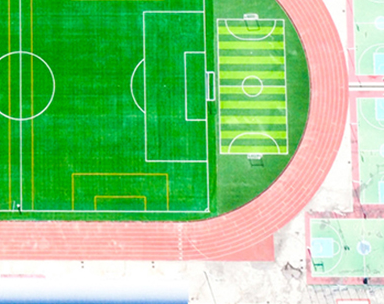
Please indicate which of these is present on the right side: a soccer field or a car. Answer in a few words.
soccer field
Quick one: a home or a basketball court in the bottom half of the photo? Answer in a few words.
basketball court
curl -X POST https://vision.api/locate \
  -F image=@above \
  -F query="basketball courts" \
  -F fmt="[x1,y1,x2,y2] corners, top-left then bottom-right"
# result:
[305,210,384,284]
[346,0,384,83]
[350,90,384,210]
